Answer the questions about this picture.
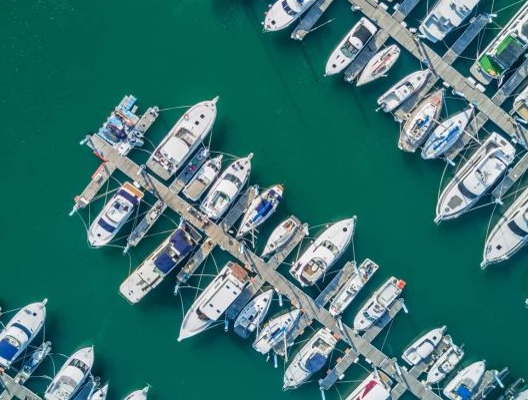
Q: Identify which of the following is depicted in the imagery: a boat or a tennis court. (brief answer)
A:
boat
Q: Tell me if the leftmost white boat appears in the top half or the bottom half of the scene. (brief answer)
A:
bottom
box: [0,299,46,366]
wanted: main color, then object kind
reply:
white boat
